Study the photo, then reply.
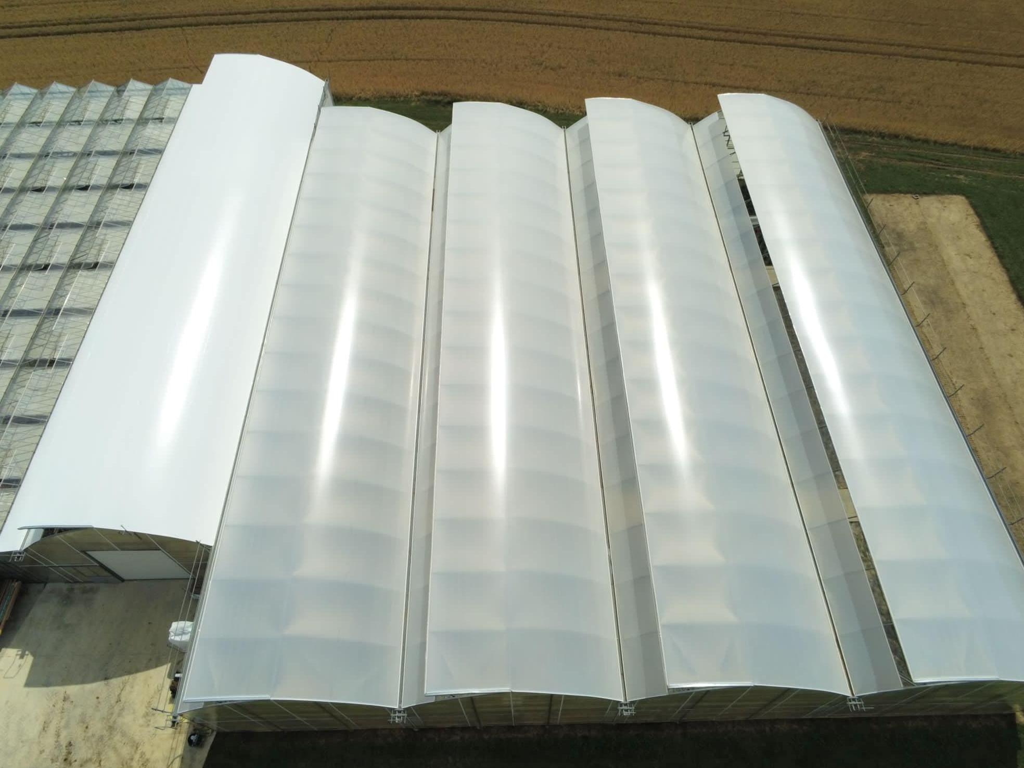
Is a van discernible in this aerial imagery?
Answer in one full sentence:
No, the picture doesn't show any van.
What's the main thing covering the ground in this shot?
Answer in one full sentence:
The bulk of the photo consists of buildings.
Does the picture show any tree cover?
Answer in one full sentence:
No, tree cover can't be seen anywhere here.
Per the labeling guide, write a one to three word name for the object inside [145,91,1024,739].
greenhouse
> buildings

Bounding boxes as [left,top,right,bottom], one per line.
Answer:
[0,78,193,585]
[145,91,1024,739]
